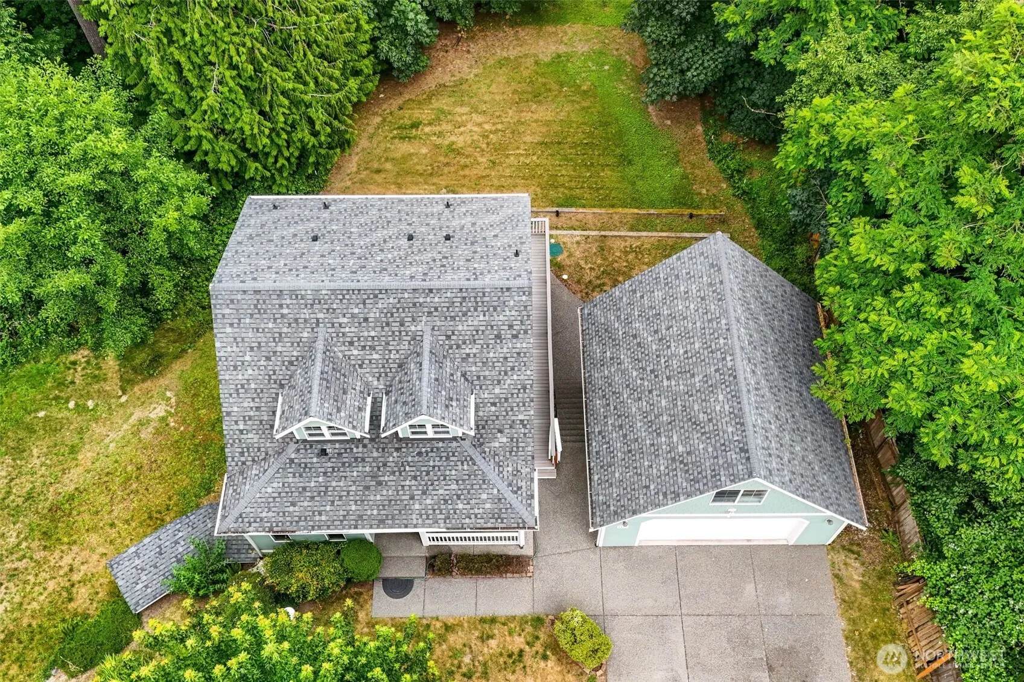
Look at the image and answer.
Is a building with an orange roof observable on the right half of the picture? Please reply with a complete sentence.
No, there's no building with an orange roof to be seen on the right half of the picture.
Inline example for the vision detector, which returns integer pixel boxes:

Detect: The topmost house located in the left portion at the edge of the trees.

[211,192,538,553]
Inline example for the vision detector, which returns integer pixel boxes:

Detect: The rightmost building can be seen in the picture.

[578,234,867,550]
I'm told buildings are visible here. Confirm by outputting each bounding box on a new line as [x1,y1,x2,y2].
[578,234,867,550]
[211,192,538,553]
